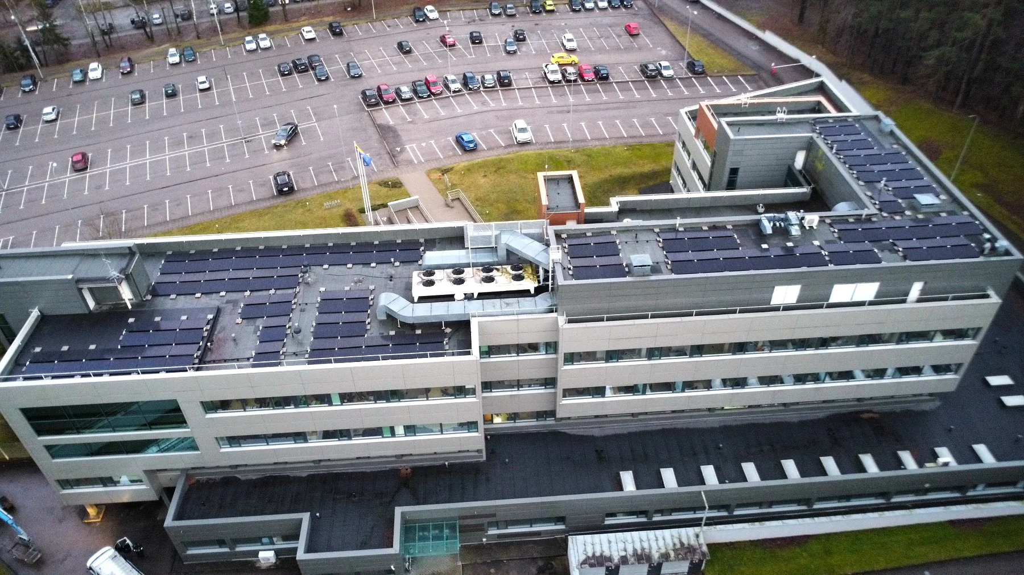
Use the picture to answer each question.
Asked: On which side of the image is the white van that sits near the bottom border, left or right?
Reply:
left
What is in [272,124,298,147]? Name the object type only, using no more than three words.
car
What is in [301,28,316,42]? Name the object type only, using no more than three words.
car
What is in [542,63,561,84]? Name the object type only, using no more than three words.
vehicle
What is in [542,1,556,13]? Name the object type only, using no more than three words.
vehicle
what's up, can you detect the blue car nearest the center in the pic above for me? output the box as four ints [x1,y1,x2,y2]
[455,132,478,154]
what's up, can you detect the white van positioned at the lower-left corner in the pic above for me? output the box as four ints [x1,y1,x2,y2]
[90,535,141,575]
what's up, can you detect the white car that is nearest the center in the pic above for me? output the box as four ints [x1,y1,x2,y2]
[512,119,531,143]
